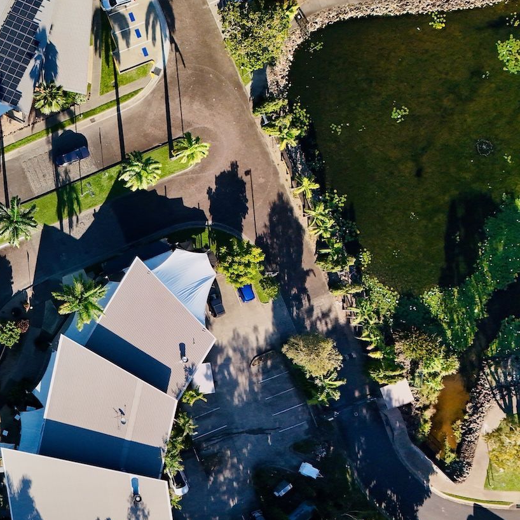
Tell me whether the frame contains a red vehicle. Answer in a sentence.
No, this view has no red vehicle in it.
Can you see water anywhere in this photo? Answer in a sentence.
Yes, there is water in the image.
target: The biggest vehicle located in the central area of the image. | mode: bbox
[208,279,227,318]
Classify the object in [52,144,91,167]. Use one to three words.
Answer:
car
